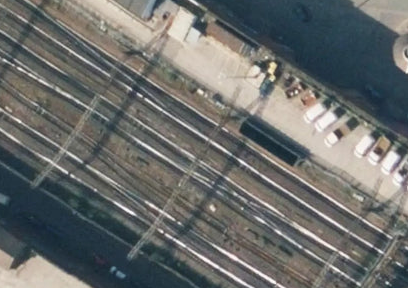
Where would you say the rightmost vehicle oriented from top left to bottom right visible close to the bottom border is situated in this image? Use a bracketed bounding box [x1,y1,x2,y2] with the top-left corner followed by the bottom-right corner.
[109,266,127,280]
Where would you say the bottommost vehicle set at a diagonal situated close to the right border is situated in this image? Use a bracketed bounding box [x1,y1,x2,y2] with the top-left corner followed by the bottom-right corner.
[390,165,408,183]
